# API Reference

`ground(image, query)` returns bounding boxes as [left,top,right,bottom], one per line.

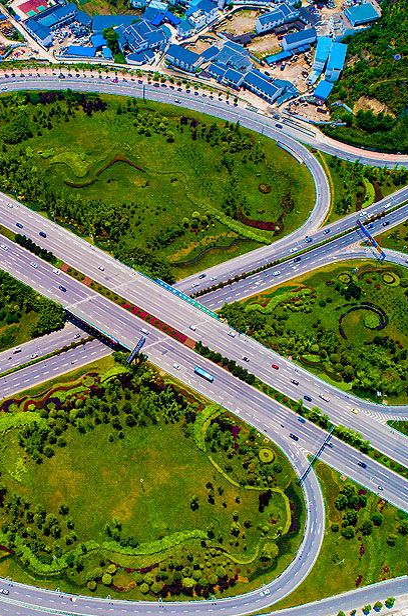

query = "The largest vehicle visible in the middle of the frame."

[194,365,216,381]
